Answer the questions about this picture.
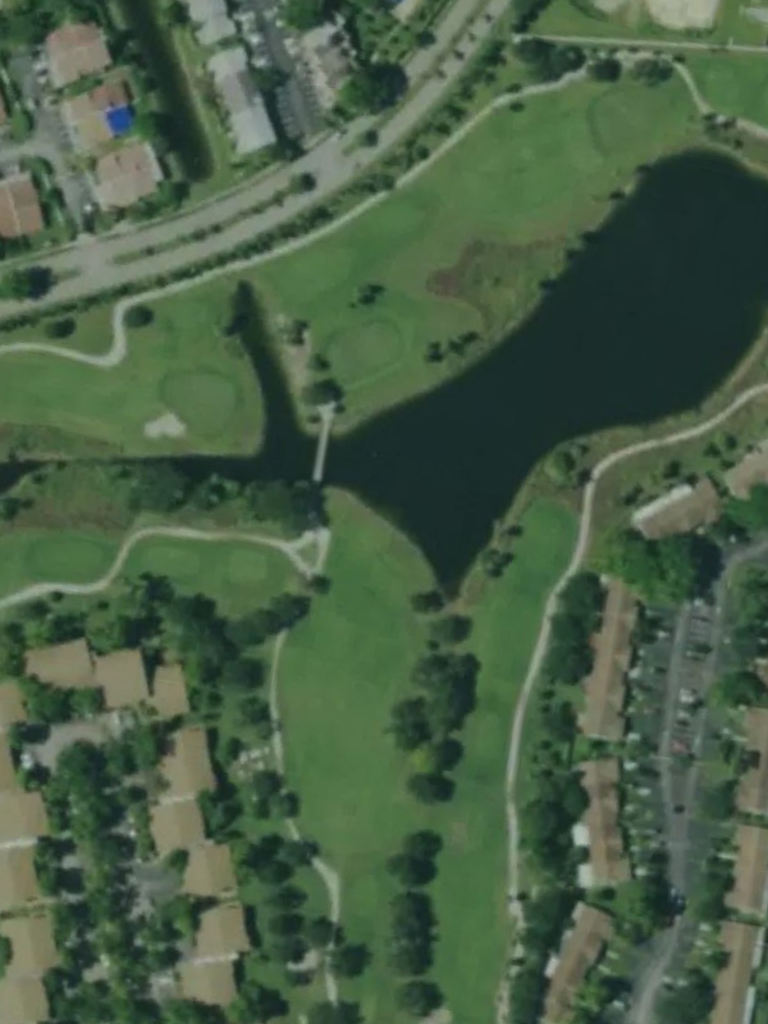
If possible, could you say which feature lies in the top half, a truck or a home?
home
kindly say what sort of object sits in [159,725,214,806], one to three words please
house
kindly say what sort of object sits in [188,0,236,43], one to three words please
building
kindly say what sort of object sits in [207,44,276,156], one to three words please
building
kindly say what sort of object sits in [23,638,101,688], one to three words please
house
